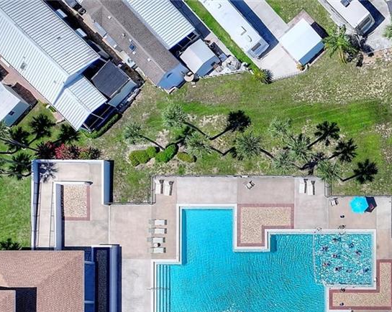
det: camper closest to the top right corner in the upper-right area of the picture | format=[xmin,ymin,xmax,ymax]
[329,0,376,39]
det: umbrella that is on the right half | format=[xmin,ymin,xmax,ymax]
[349,195,368,214]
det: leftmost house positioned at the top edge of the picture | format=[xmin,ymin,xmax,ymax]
[0,0,107,104]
